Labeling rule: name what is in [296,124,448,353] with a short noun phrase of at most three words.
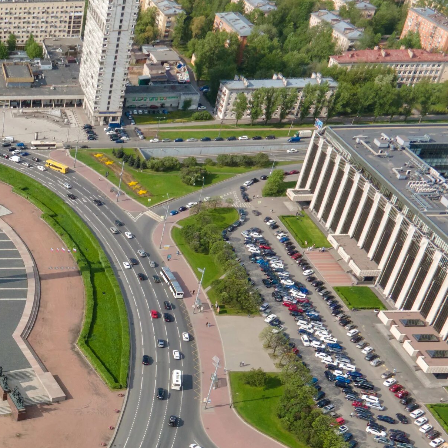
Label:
building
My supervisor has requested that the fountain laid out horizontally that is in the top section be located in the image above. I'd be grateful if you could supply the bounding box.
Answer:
[18,106,68,124]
